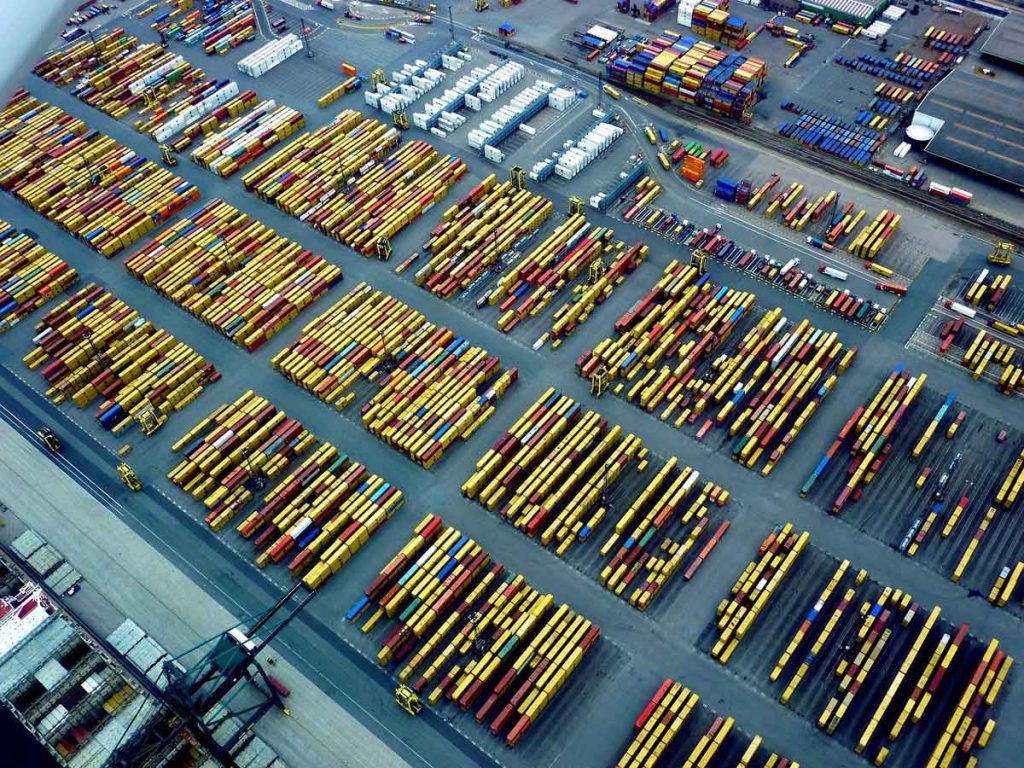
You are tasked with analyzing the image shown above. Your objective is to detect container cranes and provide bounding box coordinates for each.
[112,583,315,768]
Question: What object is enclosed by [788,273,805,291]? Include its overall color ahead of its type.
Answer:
red vehicle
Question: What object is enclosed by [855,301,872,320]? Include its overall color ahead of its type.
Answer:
green vehicle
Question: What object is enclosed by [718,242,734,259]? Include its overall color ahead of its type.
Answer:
blue vehicle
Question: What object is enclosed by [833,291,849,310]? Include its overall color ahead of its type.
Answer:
red vehicle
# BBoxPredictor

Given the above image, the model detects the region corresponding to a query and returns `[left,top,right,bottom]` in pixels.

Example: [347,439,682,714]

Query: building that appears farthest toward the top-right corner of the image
[977,21,1024,77]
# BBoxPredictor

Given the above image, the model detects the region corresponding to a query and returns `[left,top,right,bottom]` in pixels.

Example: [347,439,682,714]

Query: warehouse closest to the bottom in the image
[911,68,1024,201]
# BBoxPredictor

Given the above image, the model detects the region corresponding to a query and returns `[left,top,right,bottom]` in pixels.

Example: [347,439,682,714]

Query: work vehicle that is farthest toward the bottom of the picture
[392,681,419,711]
